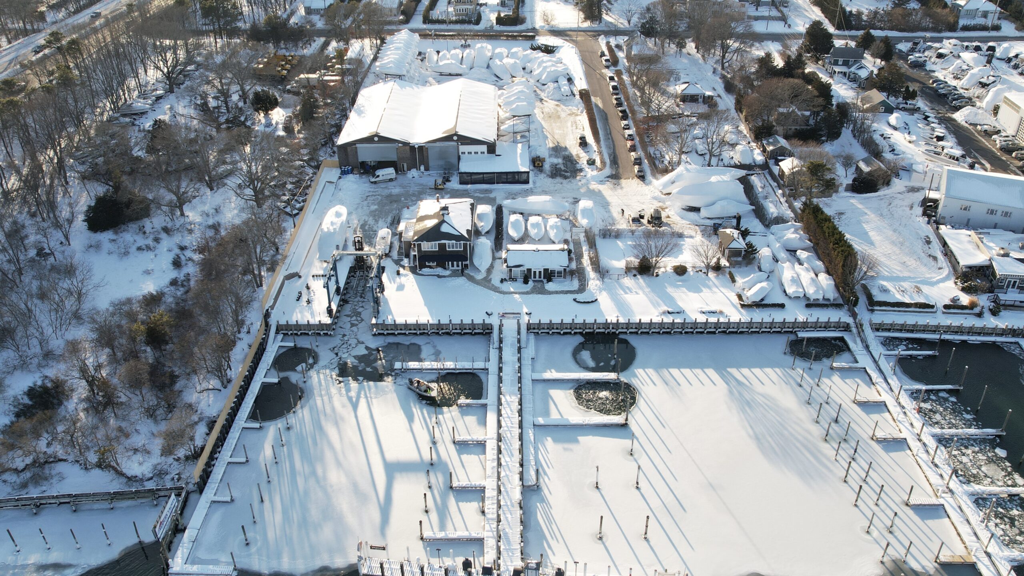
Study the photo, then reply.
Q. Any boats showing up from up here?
Yes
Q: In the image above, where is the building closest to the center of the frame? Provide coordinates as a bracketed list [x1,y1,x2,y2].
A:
[499,242,569,280]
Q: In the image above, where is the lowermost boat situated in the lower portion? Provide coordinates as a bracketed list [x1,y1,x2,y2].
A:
[406,381,440,399]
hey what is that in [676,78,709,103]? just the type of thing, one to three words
house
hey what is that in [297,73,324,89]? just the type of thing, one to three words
vehicle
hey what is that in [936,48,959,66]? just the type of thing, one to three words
boat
